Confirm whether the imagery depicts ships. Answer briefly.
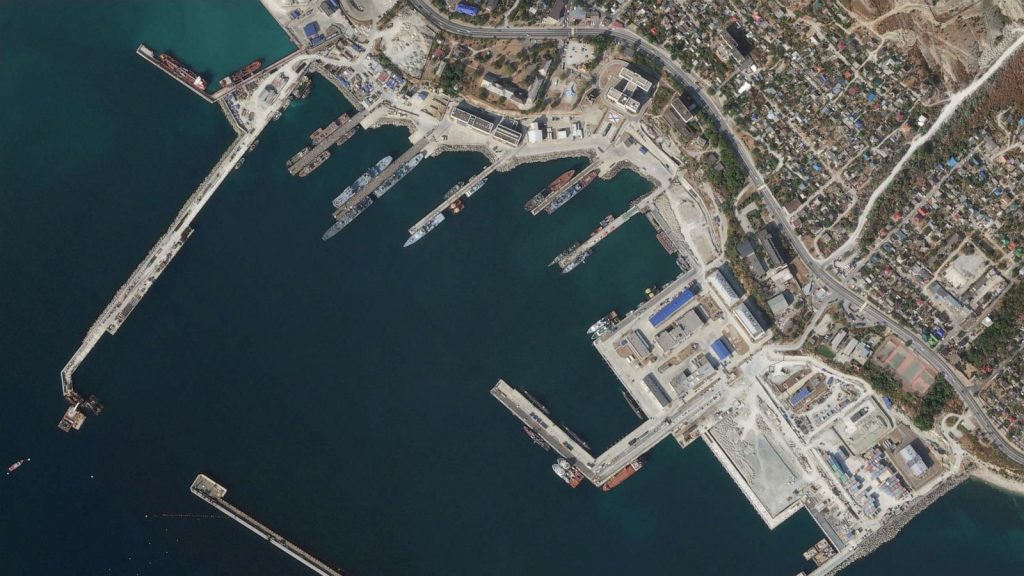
Yes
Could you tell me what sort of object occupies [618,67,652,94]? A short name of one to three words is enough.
building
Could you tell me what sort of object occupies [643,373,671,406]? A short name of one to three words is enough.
building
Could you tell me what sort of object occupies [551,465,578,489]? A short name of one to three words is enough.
boat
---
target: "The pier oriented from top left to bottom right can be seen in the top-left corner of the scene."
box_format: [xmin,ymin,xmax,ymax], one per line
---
[136,44,213,104]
